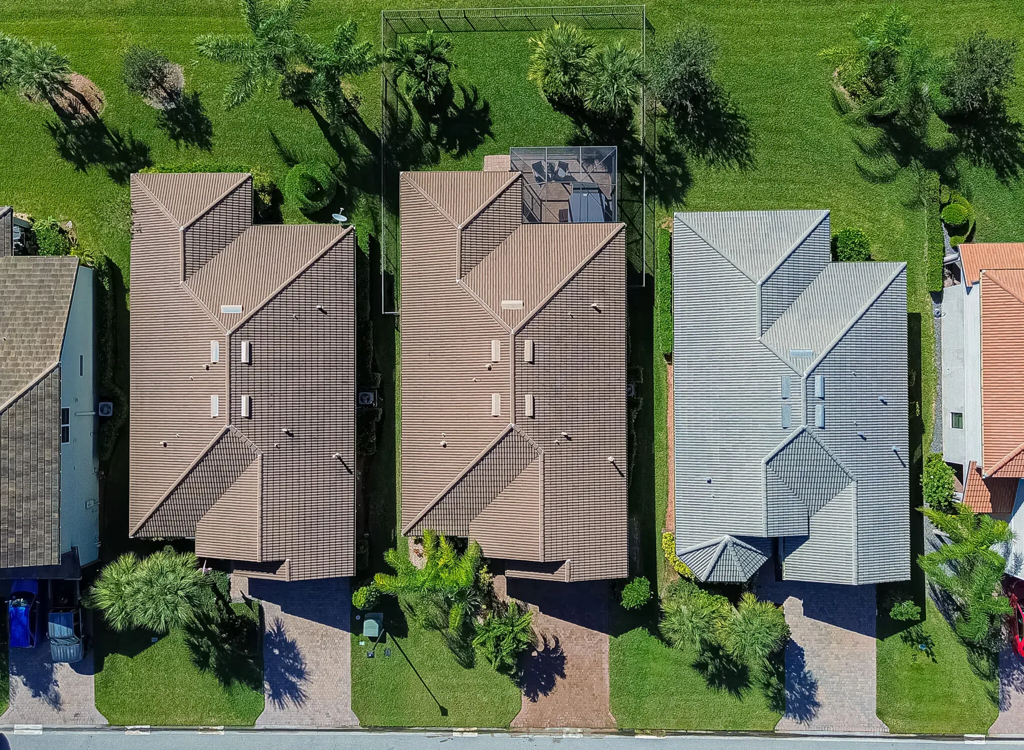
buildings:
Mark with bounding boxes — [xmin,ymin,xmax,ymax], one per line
[940,243,1024,586]
[0,204,100,581]
[671,209,913,585]
[400,169,629,583]
[126,171,357,582]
